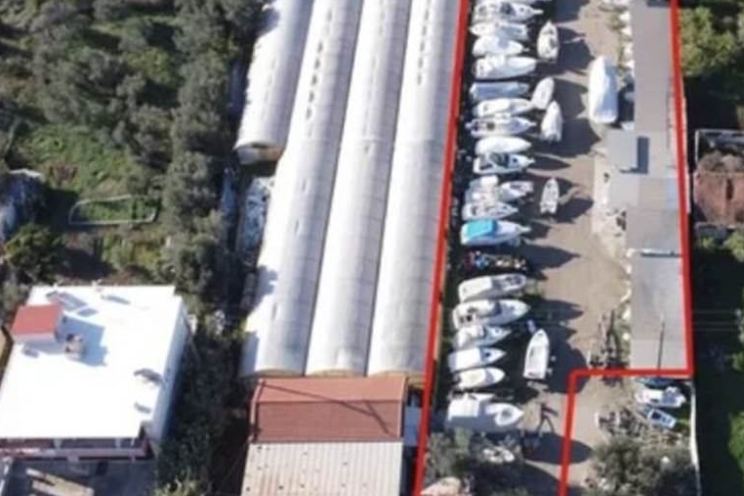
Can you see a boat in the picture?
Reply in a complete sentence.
Yes, you can see a boat in this photo.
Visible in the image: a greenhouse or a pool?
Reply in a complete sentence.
This aerial view contains a greenhouse.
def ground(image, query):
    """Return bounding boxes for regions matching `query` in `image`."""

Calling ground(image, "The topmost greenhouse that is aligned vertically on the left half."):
[237,0,314,164]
